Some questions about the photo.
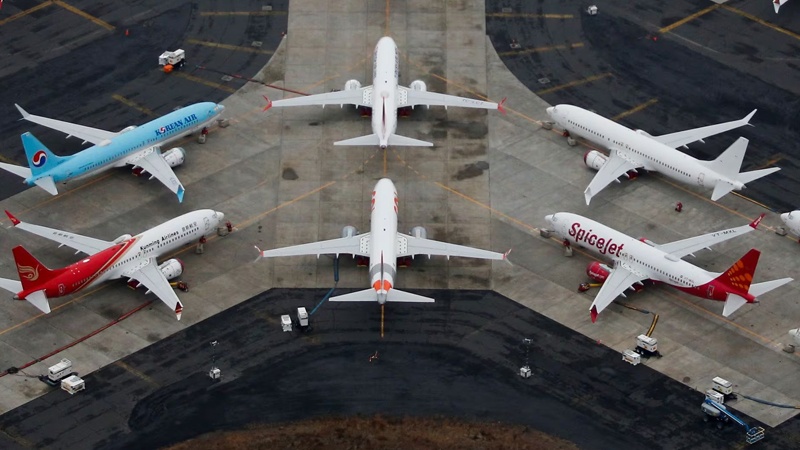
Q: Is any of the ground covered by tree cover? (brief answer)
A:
No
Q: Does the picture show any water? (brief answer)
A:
No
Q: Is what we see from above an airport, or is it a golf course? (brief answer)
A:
airport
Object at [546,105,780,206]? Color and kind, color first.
white airplane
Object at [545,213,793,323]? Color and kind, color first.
white airplane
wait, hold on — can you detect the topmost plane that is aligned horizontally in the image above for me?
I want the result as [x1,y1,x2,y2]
[262,38,506,149]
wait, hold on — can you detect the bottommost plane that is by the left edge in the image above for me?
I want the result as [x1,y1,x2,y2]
[0,210,225,320]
